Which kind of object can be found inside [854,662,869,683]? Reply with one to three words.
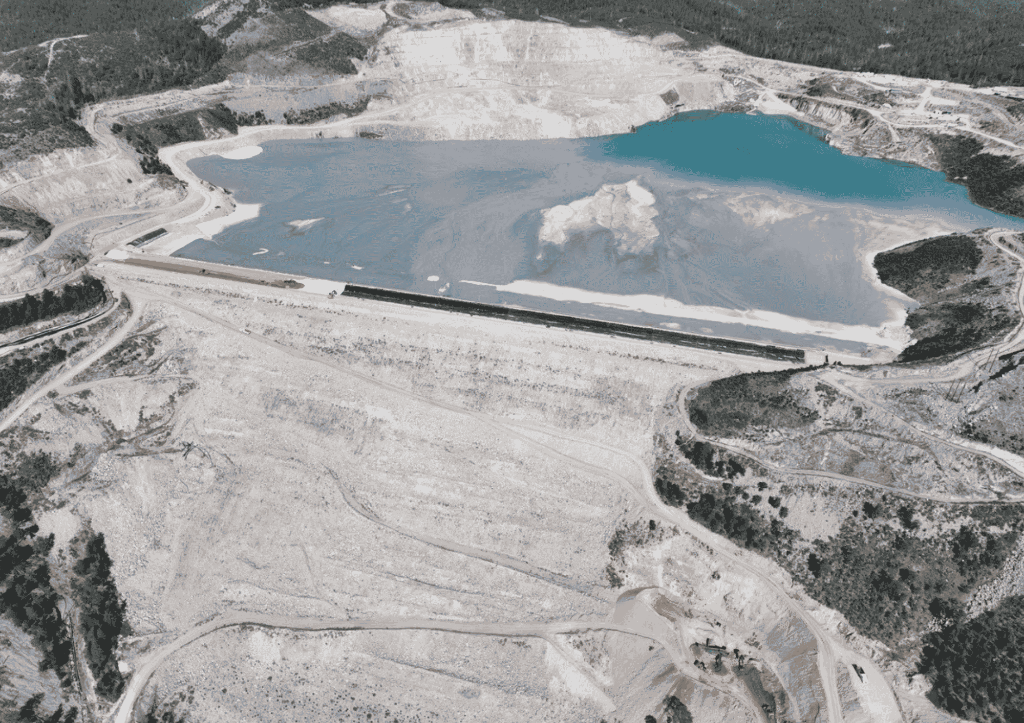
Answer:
vehicle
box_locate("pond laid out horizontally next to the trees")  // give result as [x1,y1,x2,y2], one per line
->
[162,111,1024,357]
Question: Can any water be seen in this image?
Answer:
Yes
